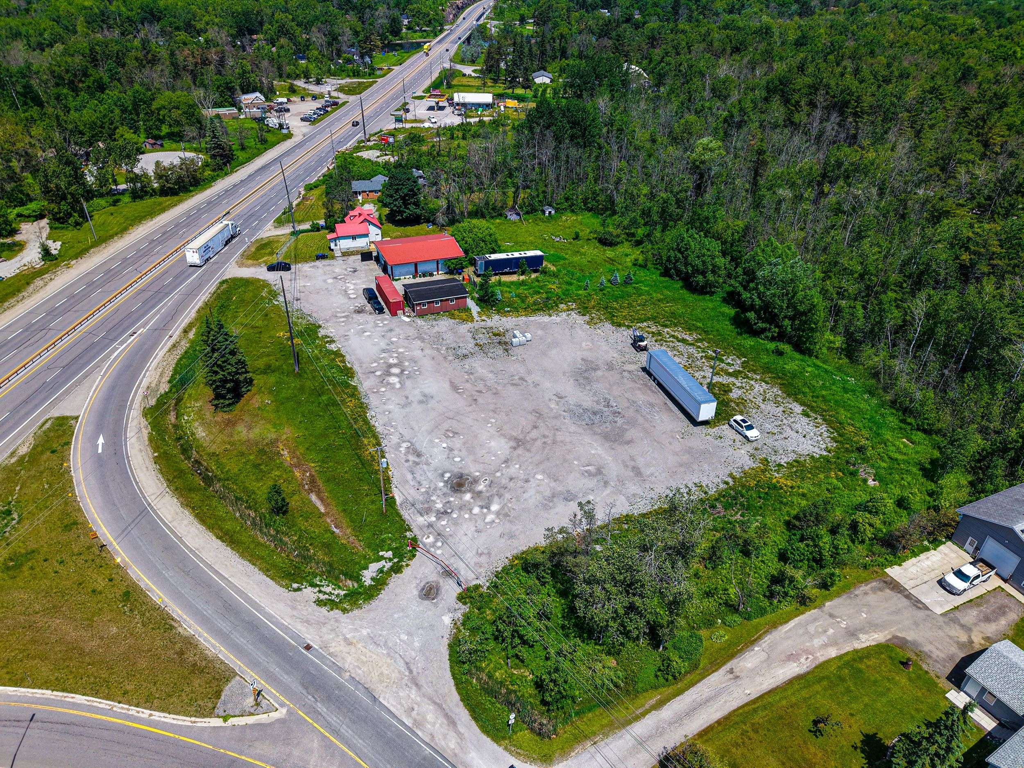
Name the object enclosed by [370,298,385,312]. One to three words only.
car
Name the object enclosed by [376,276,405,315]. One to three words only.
shipping container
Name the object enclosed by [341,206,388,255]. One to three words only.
house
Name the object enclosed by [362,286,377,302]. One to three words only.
car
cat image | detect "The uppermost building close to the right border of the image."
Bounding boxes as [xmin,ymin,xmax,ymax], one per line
[952,491,1024,595]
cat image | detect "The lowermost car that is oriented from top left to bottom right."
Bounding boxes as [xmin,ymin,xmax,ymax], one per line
[727,414,760,441]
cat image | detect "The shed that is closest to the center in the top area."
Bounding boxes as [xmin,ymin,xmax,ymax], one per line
[402,277,468,315]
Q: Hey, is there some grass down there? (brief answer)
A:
Yes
